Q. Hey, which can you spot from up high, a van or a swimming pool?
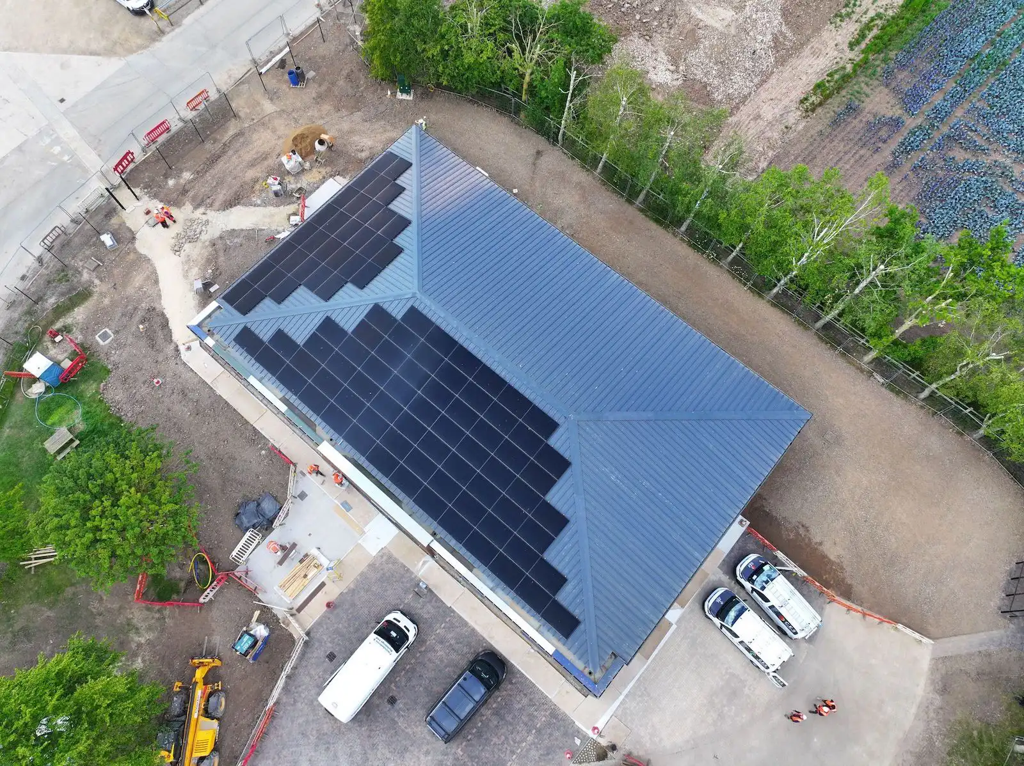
van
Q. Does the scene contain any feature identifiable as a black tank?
No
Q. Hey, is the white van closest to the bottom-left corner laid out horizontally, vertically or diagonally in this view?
diagonally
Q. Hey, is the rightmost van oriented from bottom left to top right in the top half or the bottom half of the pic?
bottom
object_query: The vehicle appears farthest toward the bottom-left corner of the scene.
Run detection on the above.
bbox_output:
[146,637,224,766]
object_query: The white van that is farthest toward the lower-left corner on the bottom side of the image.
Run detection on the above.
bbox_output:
[319,609,422,724]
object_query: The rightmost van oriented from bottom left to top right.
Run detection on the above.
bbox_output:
[425,648,511,743]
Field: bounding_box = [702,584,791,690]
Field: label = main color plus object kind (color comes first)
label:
white van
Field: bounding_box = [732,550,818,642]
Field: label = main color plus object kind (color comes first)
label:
white van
